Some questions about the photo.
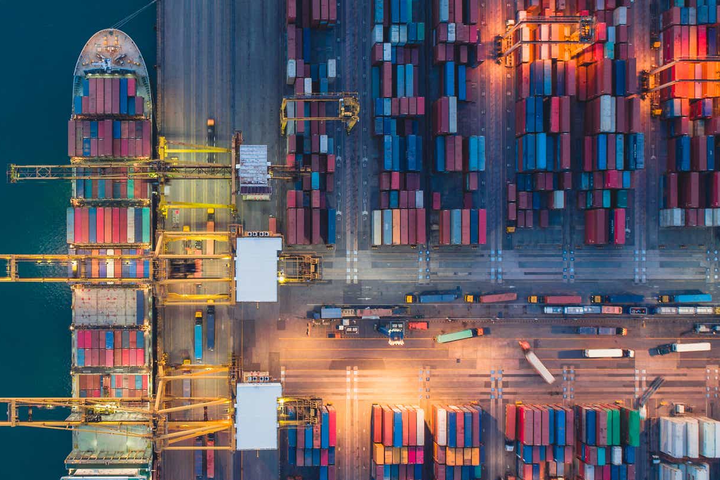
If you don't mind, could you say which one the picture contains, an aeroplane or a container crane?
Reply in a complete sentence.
The one in the frame is a container crane.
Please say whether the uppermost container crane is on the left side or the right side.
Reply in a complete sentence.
The uppermost container crane sits on the right side.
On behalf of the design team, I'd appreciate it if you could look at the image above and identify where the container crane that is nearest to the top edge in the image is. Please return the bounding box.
[498,13,599,64]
